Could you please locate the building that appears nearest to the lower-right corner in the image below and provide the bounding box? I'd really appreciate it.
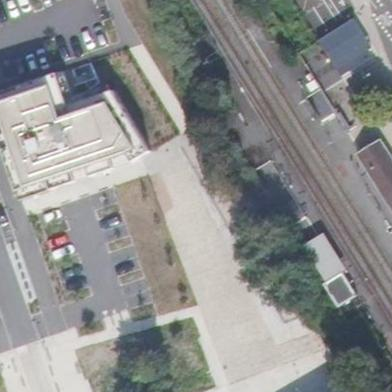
[322,272,357,308]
